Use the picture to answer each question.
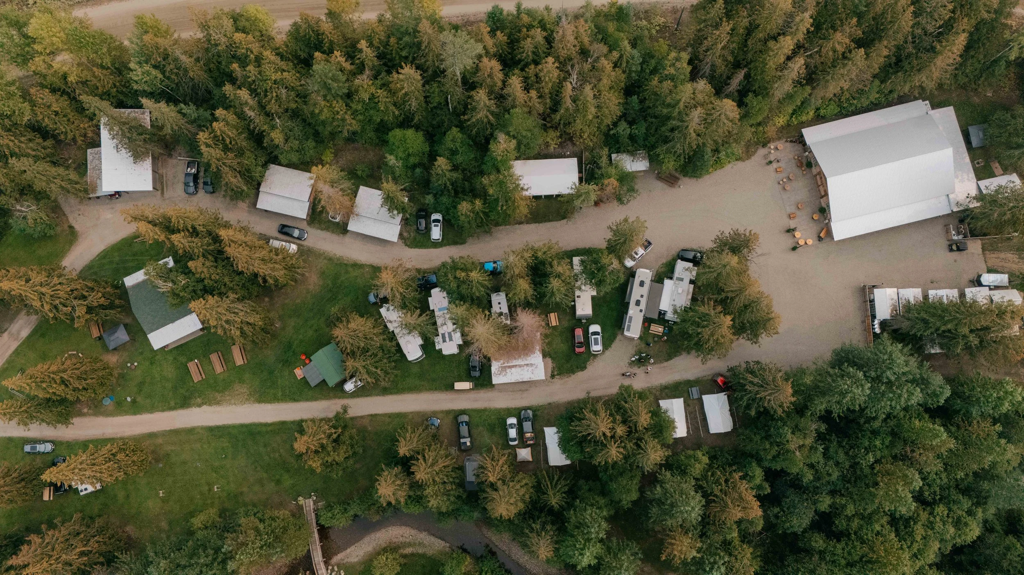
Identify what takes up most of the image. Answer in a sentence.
The largest share of the image is taken up by trees.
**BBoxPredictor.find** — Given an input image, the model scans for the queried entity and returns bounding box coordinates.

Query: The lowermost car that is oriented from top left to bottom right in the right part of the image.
[709,368,734,394]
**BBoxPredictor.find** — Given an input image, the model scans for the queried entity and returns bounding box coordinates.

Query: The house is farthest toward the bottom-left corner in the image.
[124,257,208,351]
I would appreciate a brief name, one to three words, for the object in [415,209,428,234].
vehicle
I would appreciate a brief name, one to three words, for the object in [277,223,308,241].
car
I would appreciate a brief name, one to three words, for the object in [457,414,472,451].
vehicle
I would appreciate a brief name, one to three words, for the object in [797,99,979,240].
building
